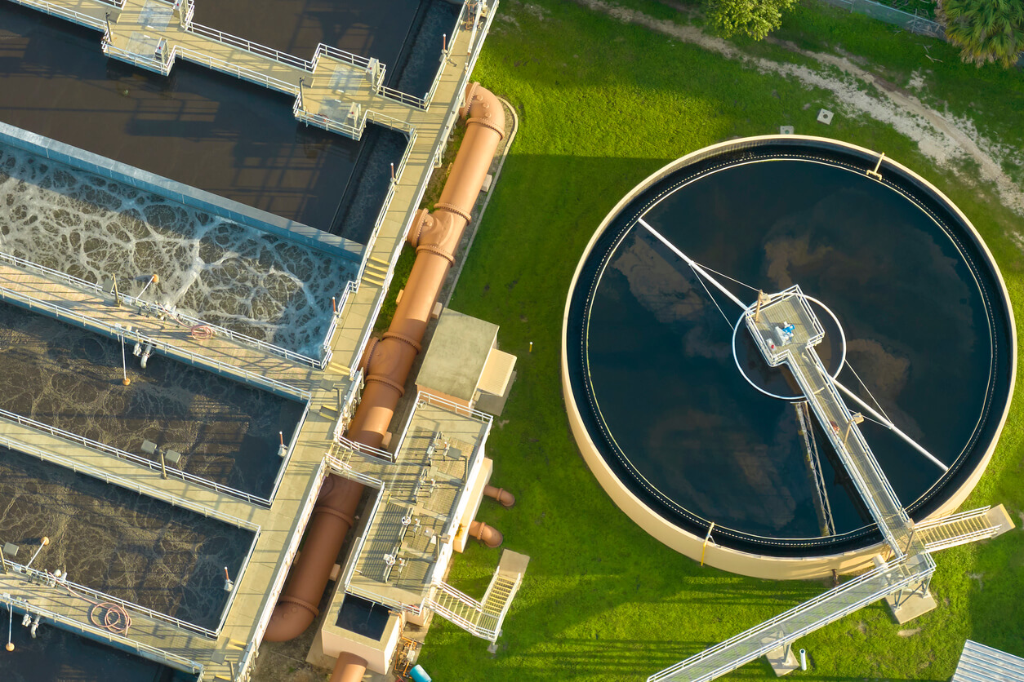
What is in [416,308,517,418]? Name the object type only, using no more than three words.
building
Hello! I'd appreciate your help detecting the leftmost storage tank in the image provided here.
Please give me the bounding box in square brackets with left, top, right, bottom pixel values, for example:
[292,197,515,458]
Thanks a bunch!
[322,535,400,682]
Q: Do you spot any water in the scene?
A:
Yes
